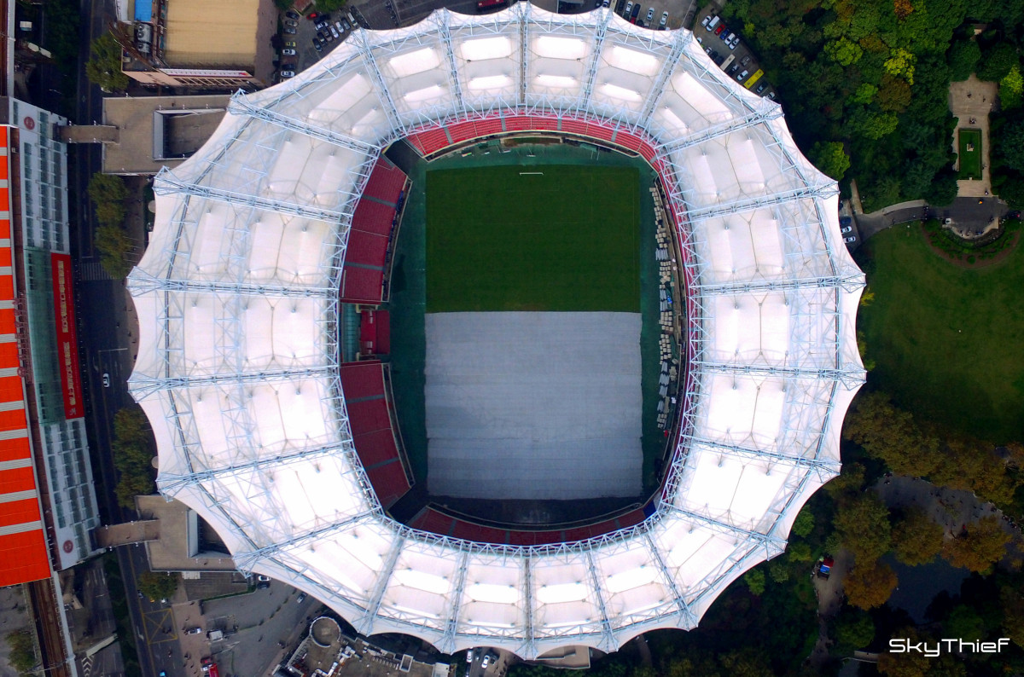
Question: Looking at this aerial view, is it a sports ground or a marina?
sports ground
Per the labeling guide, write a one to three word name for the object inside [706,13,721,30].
car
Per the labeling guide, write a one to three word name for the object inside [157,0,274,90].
building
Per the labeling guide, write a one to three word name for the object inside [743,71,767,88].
vehicle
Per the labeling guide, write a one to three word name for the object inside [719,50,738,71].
vehicle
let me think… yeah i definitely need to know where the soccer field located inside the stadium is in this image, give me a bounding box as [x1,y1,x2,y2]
[357,142,678,521]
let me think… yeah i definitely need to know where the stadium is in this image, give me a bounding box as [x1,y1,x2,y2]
[127,1,866,657]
